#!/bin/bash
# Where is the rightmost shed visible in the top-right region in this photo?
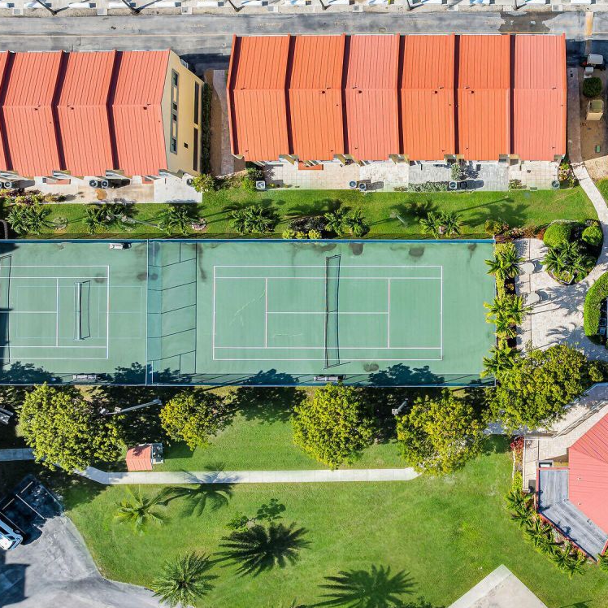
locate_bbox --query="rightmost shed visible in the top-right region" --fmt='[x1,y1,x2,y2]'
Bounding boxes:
[585,96,605,119]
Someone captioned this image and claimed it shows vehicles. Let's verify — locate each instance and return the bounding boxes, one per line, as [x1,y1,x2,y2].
[583,49,606,67]
[0,524,20,554]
